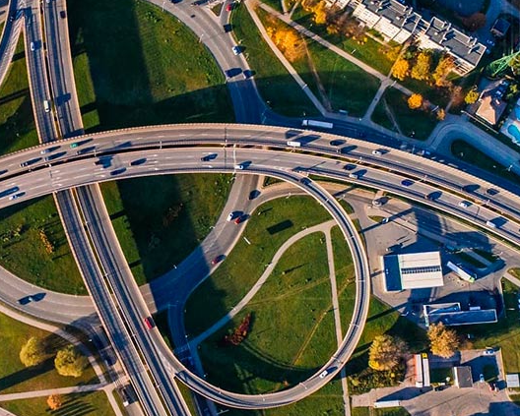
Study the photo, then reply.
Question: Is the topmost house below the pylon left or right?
right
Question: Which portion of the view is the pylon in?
top right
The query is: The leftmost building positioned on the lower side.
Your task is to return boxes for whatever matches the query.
[380,251,444,291]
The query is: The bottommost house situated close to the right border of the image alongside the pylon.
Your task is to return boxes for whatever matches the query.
[469,92,499,125]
